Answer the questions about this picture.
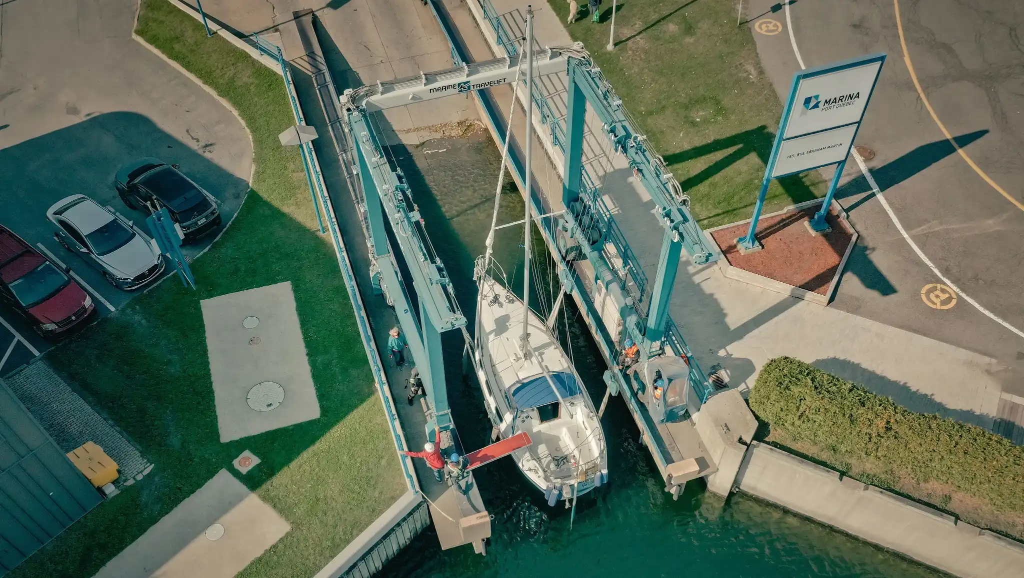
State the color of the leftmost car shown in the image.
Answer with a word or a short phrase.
black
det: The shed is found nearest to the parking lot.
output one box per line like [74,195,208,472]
[0,372,110,578]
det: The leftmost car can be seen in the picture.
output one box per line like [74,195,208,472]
[0,213,103,339]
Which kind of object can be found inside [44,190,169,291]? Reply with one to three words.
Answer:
car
